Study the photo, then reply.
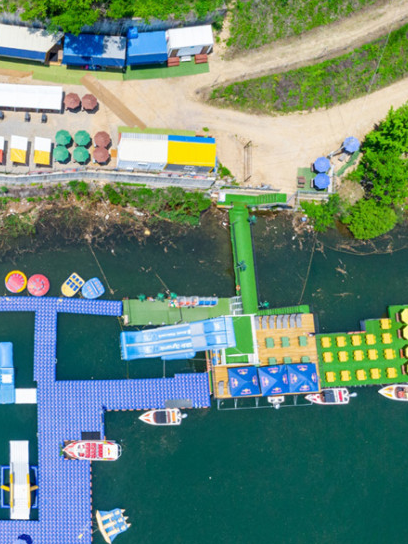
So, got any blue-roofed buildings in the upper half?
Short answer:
Yes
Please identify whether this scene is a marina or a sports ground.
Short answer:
marina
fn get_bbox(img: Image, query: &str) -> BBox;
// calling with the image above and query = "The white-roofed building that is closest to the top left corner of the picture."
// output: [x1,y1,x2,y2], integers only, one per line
[0,24,64,67]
